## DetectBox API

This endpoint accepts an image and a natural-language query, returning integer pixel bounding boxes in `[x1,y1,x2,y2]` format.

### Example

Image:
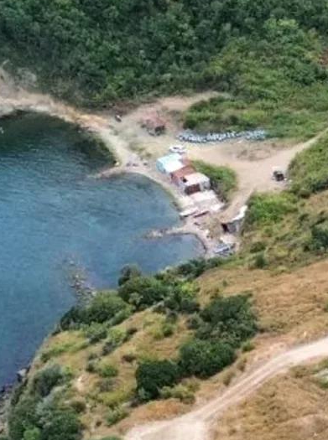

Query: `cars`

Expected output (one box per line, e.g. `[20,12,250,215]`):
[275,167,283,179]
[170,145,187,154]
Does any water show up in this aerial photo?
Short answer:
Yes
